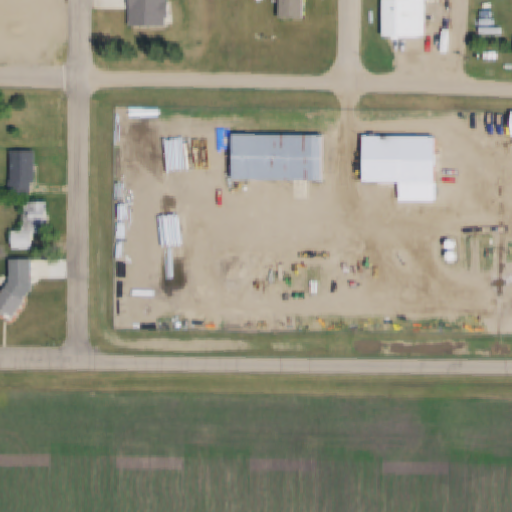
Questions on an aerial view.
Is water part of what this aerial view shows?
No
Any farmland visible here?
Yes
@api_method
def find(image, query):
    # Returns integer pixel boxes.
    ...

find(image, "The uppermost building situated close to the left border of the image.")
[8,150,34,192]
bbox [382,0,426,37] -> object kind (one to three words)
building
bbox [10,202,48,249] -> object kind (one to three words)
house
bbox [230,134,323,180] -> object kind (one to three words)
building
